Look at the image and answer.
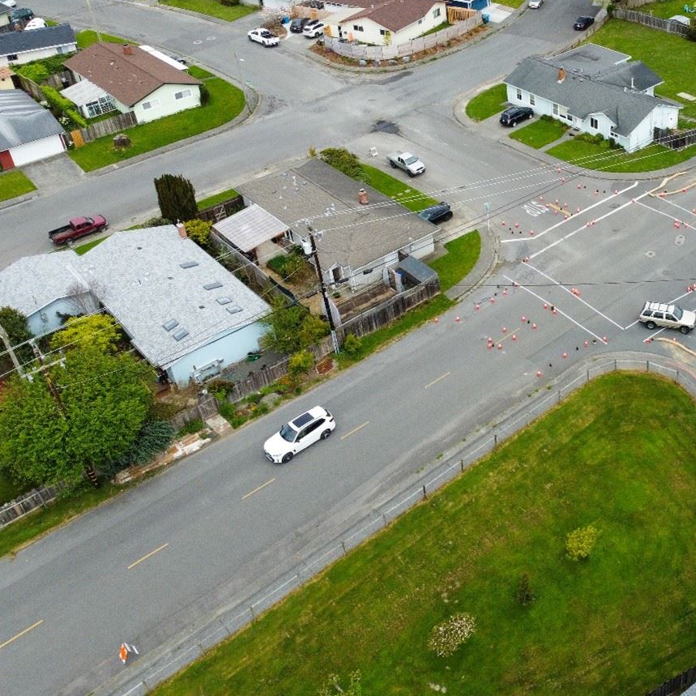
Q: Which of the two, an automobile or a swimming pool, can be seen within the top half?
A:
automobile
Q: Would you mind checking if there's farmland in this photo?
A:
No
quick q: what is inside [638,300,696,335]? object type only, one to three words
car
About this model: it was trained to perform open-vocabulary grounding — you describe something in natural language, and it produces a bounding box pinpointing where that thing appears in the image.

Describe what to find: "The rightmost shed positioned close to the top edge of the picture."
[668,16,695,36]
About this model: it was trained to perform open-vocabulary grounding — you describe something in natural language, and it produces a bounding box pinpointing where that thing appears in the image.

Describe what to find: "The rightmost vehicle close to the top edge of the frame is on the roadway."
[570,11,596,27]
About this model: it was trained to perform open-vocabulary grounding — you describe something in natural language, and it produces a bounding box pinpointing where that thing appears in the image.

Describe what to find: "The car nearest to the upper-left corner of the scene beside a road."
[9,6,37,20]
